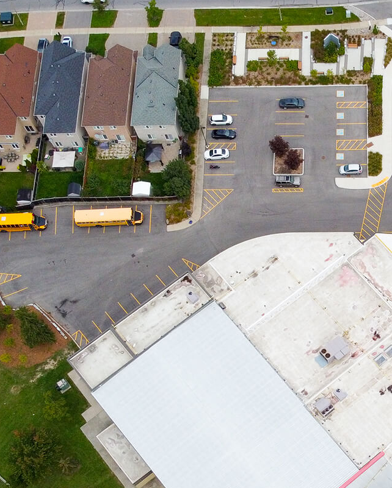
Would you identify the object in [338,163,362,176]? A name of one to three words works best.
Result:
vehicle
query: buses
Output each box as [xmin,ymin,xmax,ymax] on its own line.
[0,212,51,232]
[73,207,147,230]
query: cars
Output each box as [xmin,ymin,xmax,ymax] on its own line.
[207,113,235,126]
[210,127,237,140]
[61,35,73,48]
[338,163,362,176]
[279,98,305,110]
[168,32,181,46]
[36,36,51,56]
[204,148,230,161]
[274,173,301,187]
[81,0,105,6]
